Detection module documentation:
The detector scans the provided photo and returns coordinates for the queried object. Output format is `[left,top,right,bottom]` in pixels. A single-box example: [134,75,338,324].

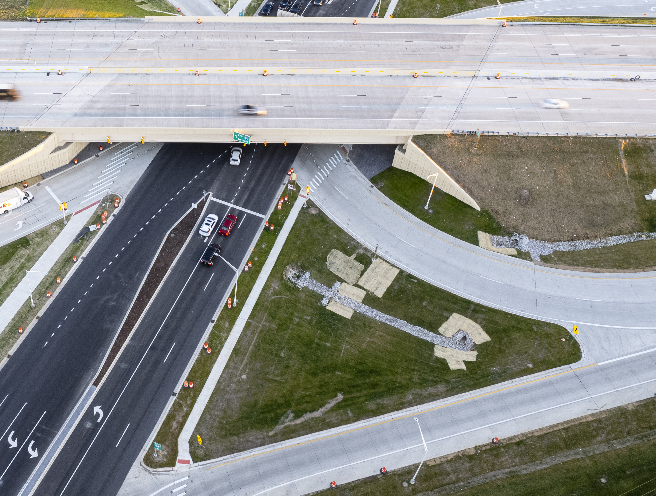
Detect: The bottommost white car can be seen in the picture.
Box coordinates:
[199,215,219,237]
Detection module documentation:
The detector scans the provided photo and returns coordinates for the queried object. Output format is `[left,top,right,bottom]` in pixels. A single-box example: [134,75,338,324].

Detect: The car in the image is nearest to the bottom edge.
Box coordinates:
[200,244,221,269]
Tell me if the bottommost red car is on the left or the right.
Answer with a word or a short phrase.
left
